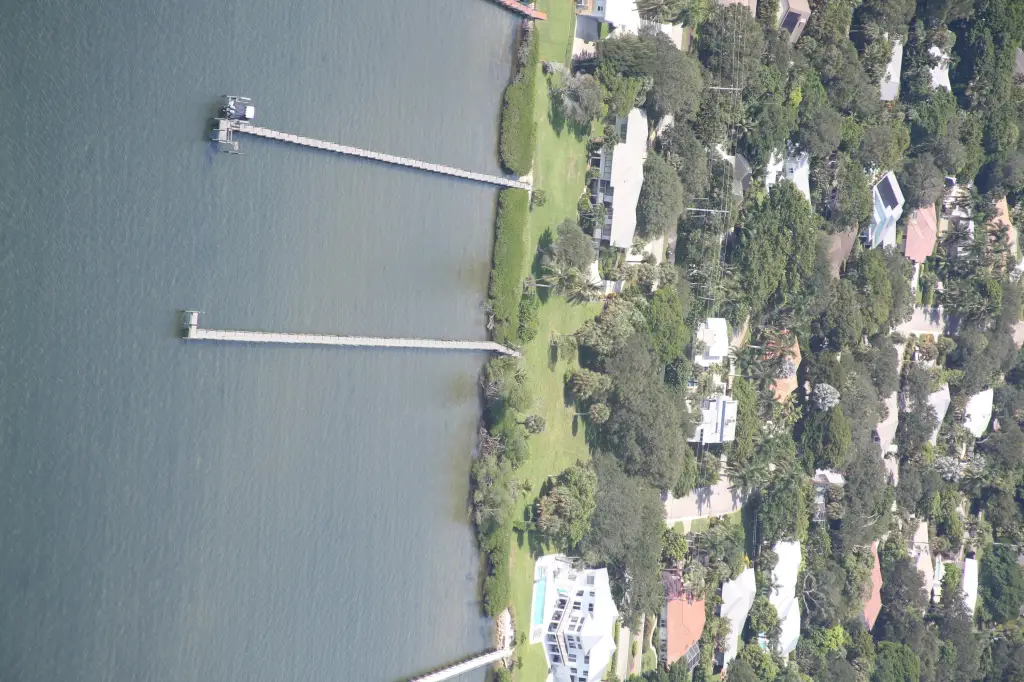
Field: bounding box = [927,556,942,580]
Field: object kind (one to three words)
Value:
building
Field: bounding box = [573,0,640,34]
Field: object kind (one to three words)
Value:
house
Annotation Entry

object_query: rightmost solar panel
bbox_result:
[877,178,900,208]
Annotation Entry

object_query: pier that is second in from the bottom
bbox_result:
[180,311,521,359]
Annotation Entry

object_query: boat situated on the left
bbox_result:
[221,101,255,118]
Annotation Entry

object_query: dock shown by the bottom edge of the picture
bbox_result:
[388,645,512,682]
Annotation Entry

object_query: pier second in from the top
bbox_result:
[210,118,533,191]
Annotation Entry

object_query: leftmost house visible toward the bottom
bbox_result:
[531,554,620,682]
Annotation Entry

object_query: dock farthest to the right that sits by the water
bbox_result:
[485,0,547,20]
